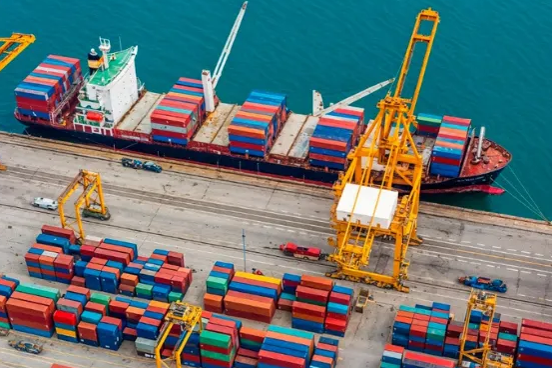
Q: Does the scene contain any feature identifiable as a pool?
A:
No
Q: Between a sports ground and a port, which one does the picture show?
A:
port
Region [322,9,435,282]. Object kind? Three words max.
container crane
